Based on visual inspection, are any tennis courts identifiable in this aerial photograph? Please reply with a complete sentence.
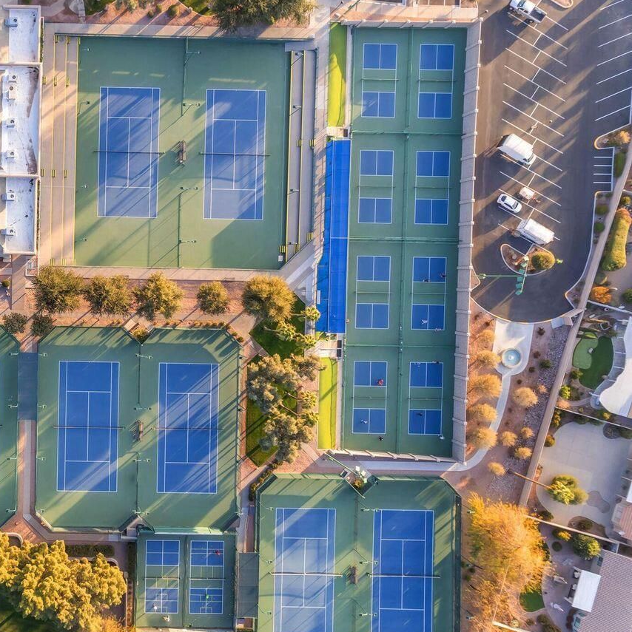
Yes, looking at the shot, I can spot a tennis court.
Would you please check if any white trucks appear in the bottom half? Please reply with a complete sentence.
No, no white truck is visible in the bottom half.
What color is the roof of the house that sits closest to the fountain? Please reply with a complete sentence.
From above, the roof of the house that sits closest to the fountain looks white.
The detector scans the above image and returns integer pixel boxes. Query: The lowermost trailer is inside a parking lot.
[509,218,553,244]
